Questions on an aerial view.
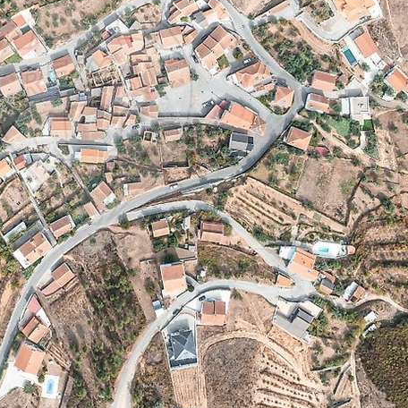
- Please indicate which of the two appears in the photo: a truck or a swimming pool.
swimming pool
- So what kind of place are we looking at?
residential area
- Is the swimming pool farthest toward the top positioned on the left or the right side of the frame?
right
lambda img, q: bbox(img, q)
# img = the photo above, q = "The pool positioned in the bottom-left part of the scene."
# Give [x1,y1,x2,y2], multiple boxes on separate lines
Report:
[41,374,58,398]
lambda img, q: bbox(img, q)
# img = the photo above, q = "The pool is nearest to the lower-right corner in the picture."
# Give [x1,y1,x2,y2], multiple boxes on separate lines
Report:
[311,241,360,256]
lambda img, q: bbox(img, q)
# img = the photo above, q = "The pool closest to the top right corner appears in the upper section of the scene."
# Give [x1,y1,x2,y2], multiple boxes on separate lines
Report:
[339,46,359,68]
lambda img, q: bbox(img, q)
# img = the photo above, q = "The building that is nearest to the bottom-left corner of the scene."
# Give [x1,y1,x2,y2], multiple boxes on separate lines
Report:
[16,341,44,373]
